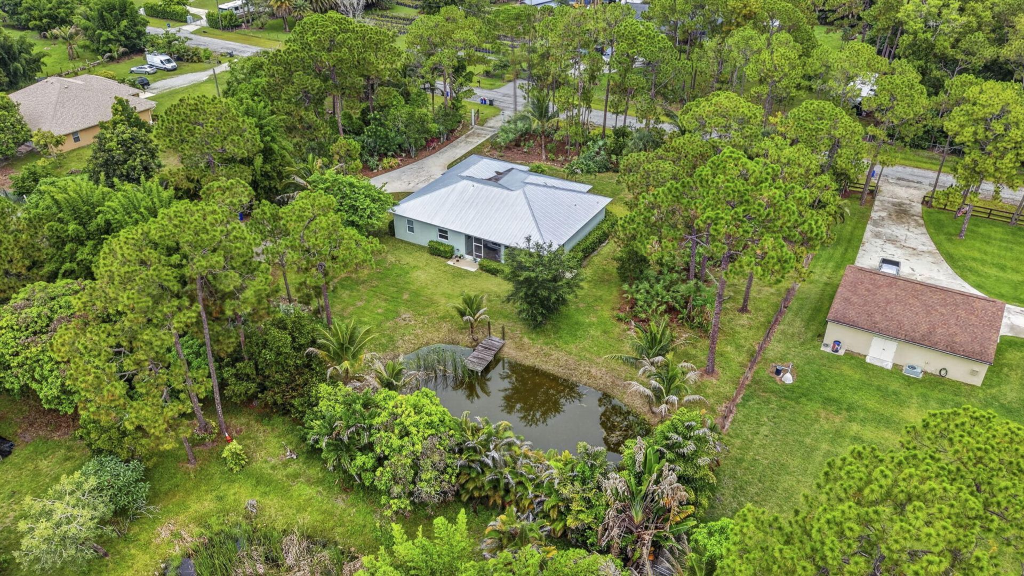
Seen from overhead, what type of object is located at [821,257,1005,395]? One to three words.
shed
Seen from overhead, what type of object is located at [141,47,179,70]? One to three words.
vehicle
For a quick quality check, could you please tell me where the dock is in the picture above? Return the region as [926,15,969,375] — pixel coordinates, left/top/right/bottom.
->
[463,324,507,377]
